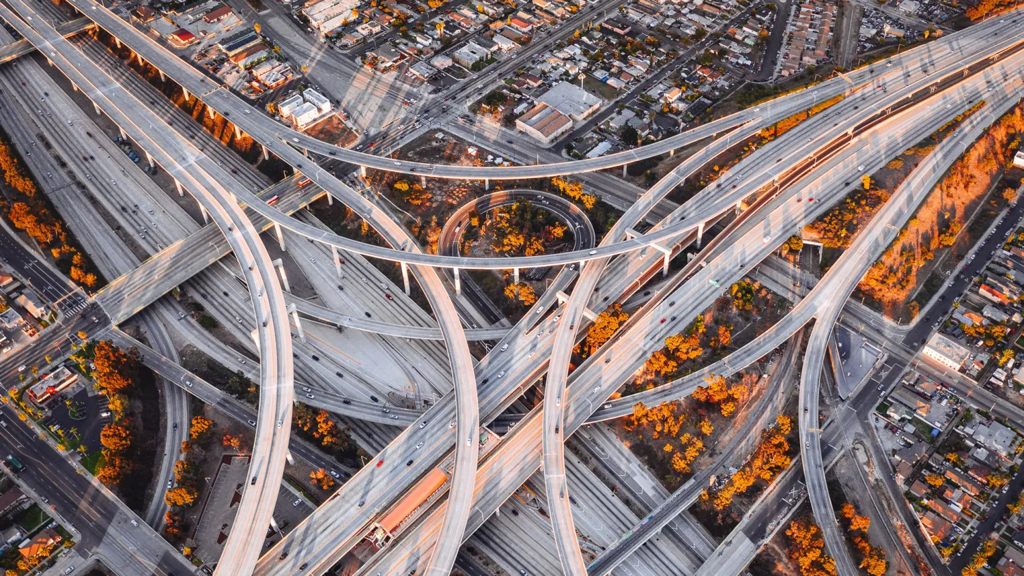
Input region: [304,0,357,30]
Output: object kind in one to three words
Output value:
building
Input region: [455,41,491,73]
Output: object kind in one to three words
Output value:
building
